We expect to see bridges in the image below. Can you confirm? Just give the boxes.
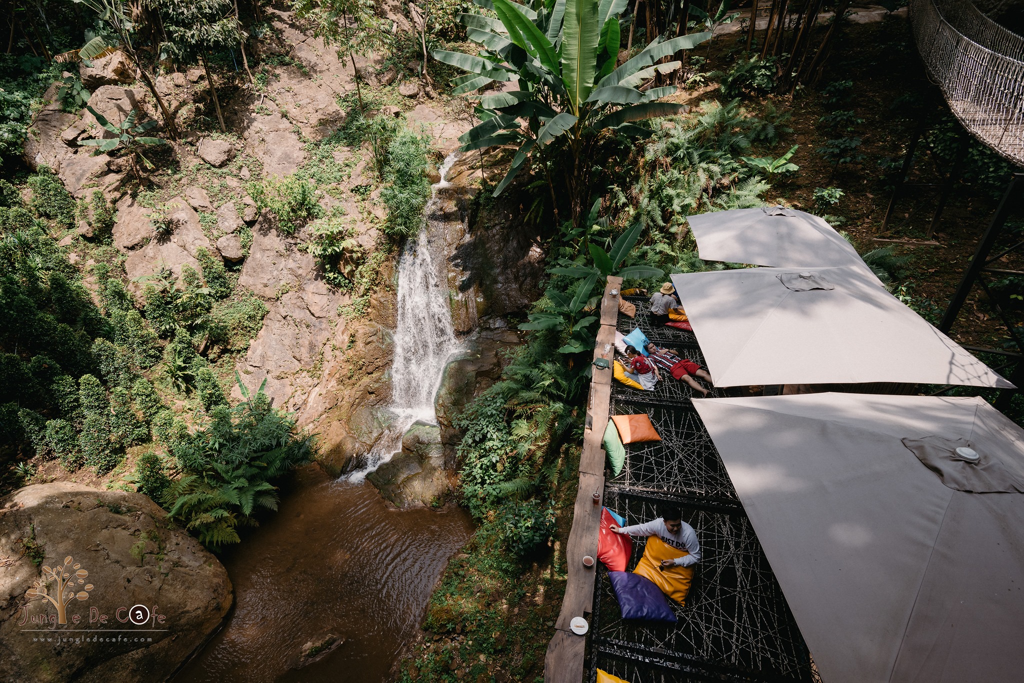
[907,0,1024,209]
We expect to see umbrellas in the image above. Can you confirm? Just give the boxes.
[685,202,895,284]
[690,396,1024,683]
[669,266,1017,398]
